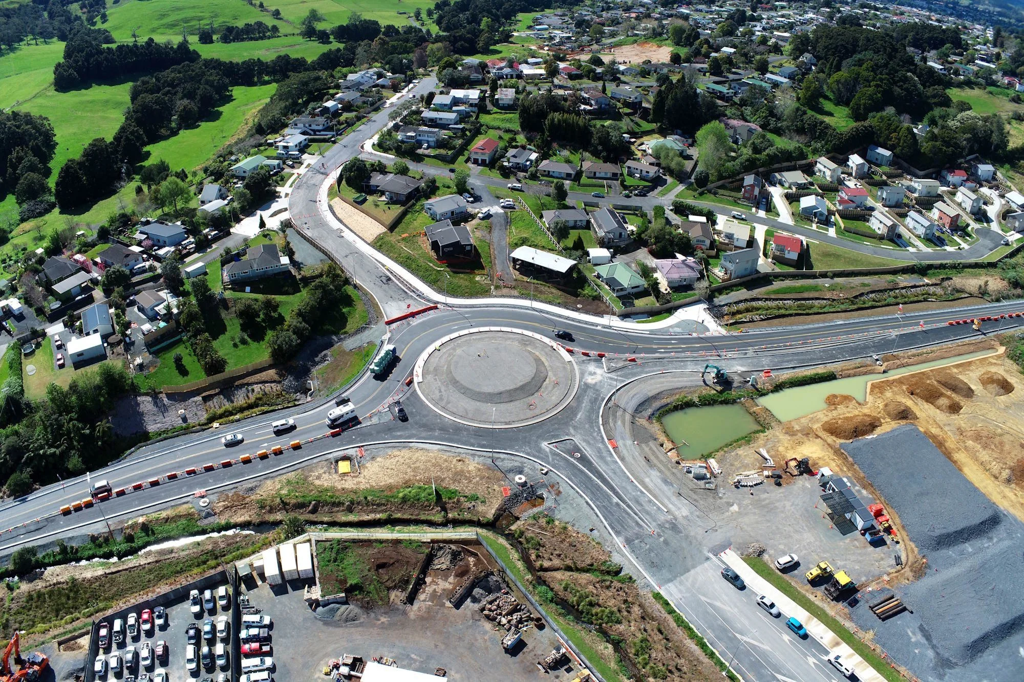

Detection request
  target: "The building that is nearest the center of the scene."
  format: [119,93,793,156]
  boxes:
[512,247,577,286]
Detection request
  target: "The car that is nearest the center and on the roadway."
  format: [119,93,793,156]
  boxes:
[554,328,573,340]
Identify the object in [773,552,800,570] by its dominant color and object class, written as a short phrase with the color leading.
white car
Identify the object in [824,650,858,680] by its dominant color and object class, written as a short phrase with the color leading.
white car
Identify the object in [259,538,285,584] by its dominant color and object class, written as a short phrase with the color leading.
white shipping container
